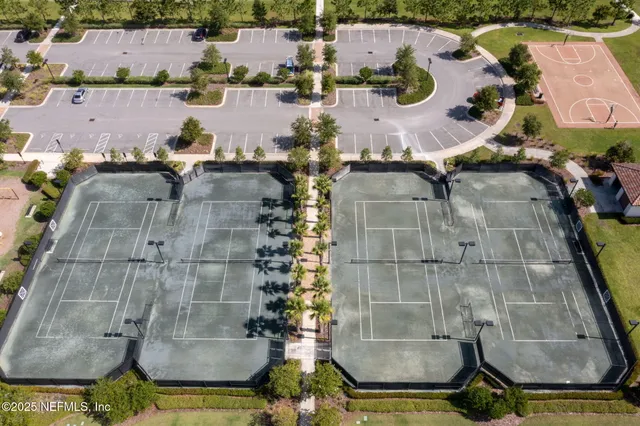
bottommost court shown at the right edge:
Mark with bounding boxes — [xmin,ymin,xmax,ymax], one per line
[448,171,629,389]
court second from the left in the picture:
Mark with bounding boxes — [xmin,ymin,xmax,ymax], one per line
[138,172,294,387]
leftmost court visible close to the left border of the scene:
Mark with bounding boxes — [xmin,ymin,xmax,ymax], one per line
[0,172,179,386]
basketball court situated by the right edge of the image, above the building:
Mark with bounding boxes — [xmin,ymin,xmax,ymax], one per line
[528,42,640,127]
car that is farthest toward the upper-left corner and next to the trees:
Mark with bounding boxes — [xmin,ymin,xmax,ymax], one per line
[13,29,29,42]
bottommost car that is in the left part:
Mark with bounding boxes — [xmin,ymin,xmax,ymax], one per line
[70,86,86,103]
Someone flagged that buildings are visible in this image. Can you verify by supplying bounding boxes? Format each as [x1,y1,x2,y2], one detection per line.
[610,162,640,215]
